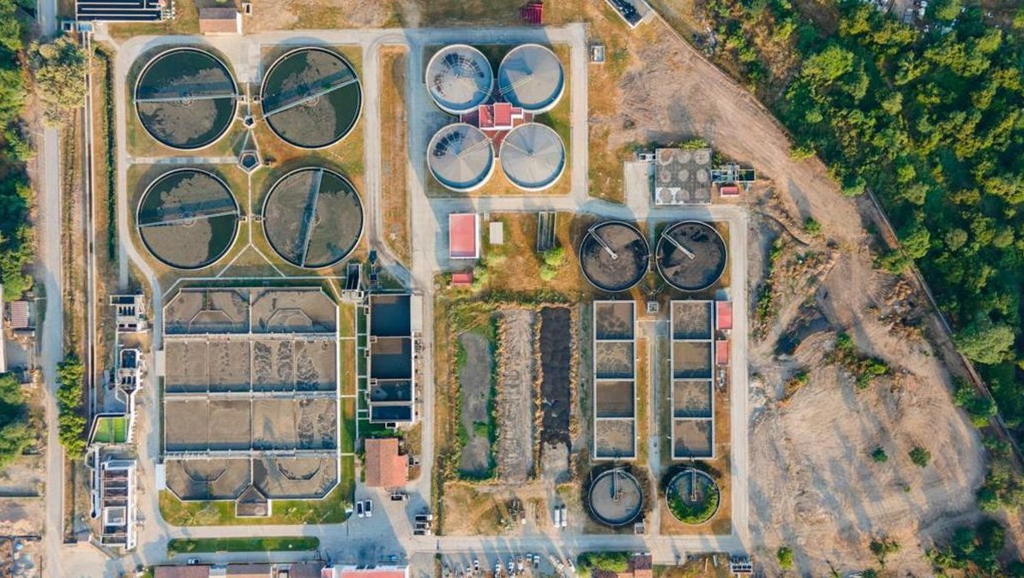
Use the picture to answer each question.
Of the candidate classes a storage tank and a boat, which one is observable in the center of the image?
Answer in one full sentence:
Looking in the center of the image, you will find a storage tank.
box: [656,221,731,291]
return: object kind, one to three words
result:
storage tank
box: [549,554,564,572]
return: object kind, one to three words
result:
vehicle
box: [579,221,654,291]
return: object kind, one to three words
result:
storage tank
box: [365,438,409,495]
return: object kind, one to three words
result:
house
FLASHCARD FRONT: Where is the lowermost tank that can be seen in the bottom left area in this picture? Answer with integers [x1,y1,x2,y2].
[87,412,137,449]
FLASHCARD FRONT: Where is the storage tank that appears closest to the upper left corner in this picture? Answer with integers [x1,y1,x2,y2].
[134,47,242,151]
